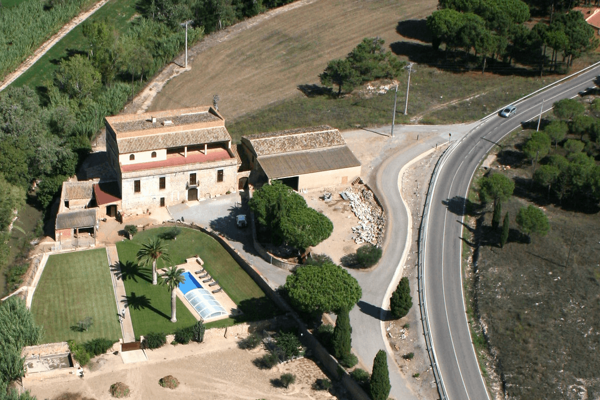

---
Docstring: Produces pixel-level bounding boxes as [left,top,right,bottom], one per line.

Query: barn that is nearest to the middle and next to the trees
[237,124,363,187]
